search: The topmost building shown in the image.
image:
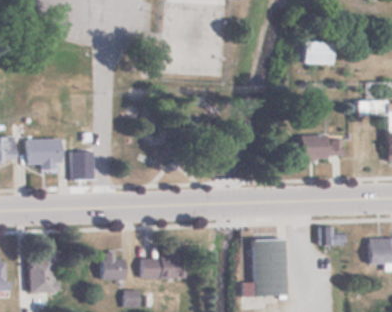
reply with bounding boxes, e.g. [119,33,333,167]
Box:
[304,42,336,66]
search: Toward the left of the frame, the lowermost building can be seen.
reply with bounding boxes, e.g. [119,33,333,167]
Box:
[123,290,142,309]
